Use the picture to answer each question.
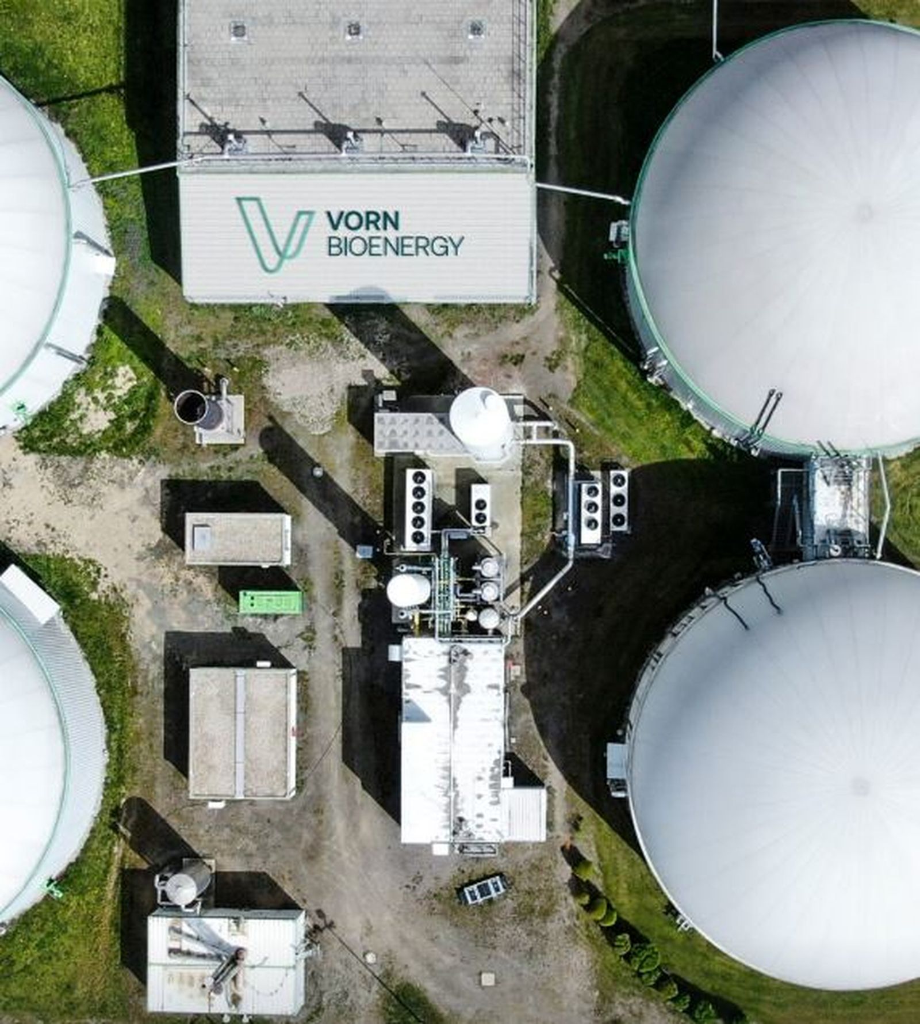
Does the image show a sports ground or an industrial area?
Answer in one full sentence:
This image shows an industrial area.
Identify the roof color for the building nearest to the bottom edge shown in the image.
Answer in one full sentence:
The color of the roof on the building nearest to the bottom edge is white.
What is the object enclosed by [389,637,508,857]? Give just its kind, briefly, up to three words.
building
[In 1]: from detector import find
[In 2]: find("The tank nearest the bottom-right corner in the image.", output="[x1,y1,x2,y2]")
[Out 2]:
[600,554,920,990]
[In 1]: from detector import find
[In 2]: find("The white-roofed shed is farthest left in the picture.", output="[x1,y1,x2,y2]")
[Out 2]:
[0,563,71,622]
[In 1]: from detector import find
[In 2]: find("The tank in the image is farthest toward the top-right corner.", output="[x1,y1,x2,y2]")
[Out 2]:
[603,20,920,466]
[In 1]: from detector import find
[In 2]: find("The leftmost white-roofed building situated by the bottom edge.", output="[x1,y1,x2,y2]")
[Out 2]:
[146,906,321,1021]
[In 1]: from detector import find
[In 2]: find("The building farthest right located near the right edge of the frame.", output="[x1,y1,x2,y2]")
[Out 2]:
[794,455,874,560]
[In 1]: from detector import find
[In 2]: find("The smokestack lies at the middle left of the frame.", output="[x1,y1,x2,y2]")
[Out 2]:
[174,379,246,444]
